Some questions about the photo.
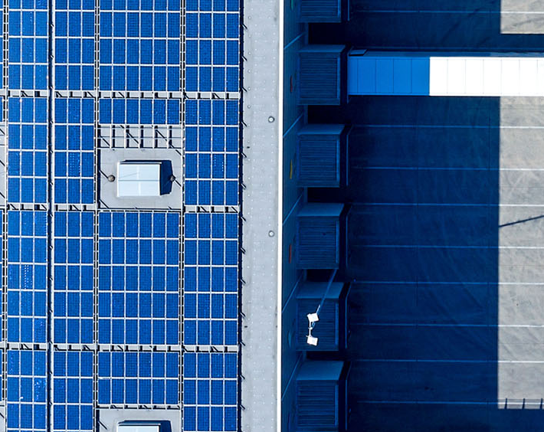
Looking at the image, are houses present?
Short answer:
Yes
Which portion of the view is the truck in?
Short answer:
top right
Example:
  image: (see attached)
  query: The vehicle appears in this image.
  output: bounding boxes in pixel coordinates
[346,52,544,97]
